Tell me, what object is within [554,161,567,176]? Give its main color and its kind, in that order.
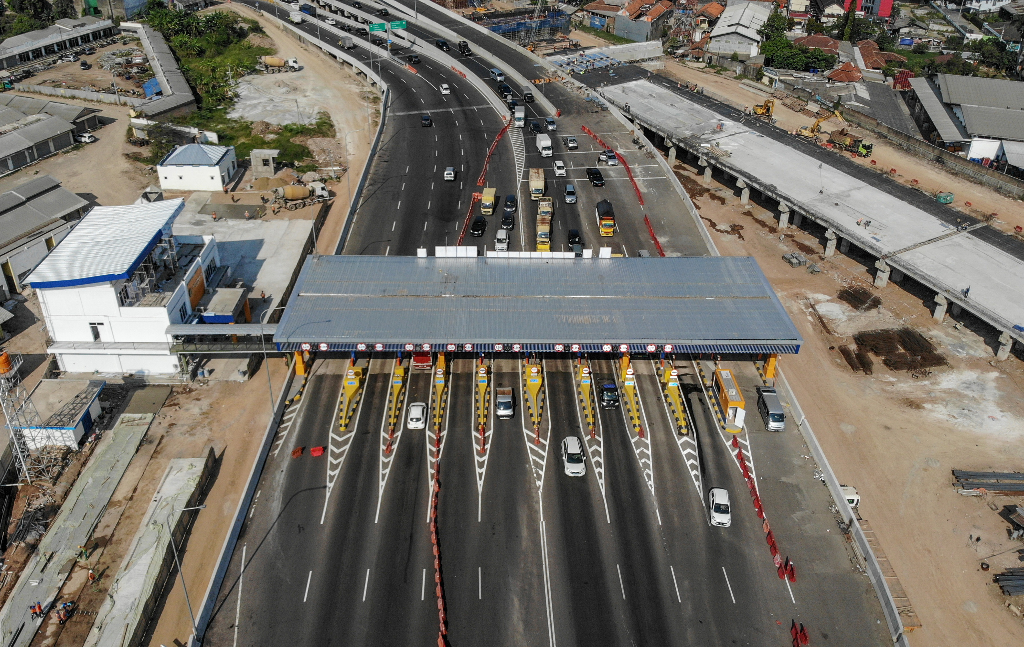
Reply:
white vehicle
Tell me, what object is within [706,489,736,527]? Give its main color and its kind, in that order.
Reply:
white car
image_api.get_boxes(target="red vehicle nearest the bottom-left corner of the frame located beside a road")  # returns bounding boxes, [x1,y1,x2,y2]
[411,352,432,373]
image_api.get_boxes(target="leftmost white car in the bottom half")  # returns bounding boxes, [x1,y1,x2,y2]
[405,405,428,432]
